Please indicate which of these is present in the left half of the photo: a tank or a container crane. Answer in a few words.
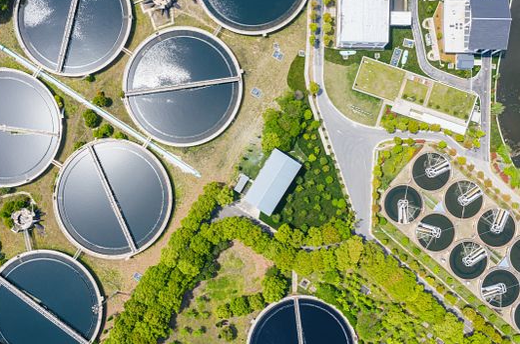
tank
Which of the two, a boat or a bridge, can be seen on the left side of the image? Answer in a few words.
bridge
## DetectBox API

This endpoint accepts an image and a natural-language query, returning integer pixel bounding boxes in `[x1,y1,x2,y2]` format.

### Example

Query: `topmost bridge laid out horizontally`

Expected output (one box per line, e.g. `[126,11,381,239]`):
[122,76,243,98]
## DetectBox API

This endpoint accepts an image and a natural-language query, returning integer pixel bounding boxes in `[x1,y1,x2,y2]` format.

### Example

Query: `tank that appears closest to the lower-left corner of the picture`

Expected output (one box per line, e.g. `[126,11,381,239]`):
[0,249,109,344]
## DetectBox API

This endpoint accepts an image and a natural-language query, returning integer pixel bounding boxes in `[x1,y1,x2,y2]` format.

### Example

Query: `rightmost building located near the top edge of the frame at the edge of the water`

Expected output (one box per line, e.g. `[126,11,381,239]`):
[467,0,513,55]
